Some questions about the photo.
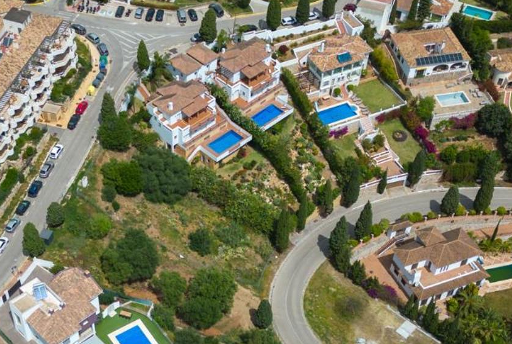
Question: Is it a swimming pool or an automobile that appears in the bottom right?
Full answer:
You can see a swimming pool in the bottom right.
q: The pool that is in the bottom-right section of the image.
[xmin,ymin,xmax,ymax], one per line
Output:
[481,262,512,287]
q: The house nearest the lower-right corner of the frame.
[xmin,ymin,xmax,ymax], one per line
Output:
[392,225,491,304]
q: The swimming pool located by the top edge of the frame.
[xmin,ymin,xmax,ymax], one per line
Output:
[460,4,497,21]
